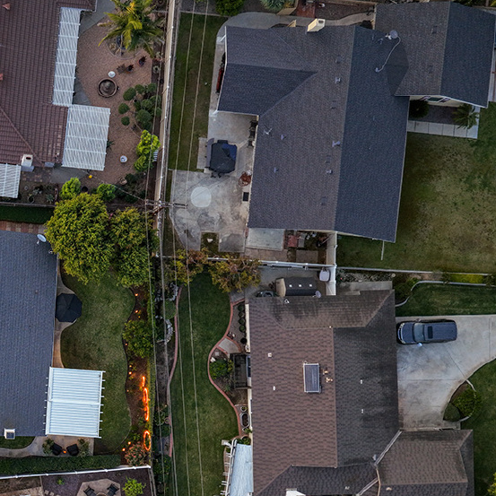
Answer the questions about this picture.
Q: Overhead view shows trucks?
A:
No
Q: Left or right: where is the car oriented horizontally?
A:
right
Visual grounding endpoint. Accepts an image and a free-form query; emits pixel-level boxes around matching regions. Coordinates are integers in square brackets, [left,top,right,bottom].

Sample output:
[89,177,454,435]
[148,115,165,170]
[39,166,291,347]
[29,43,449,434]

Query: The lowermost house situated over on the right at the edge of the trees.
[247,289,474,496]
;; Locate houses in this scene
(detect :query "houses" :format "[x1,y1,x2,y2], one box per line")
[247,289,474,496]
[0,231,56,440]
[216,0,496,243]
[0,0,96,174]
